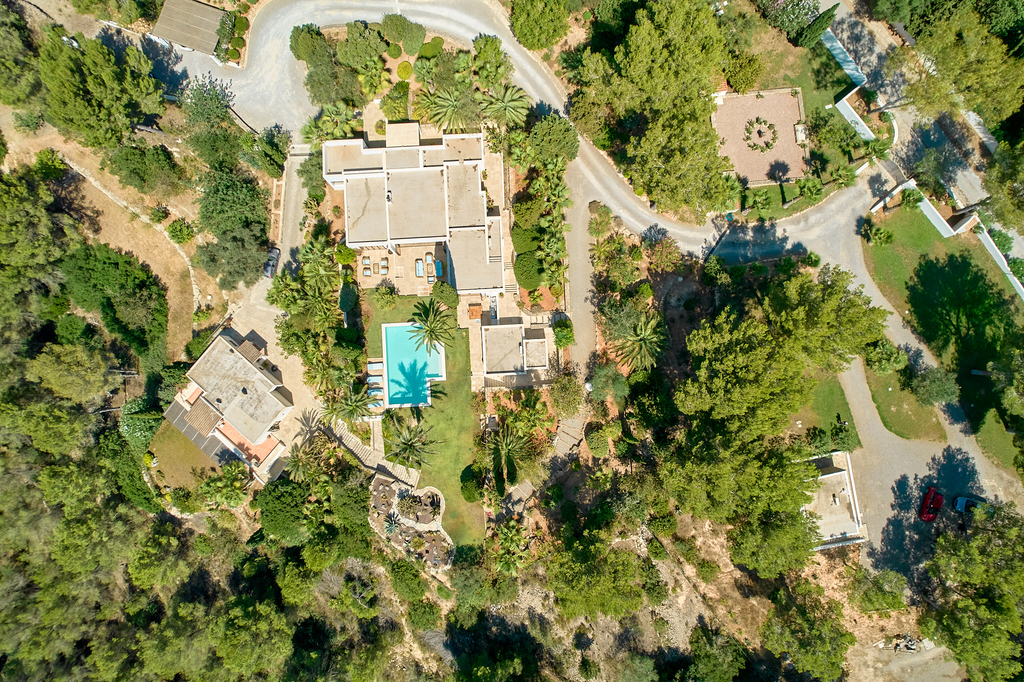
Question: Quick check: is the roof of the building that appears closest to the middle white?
Yes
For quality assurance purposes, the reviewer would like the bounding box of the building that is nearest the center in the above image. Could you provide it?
[482,325,548,376]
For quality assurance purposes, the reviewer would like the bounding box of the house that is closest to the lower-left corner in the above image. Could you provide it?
[174,335,295,480]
